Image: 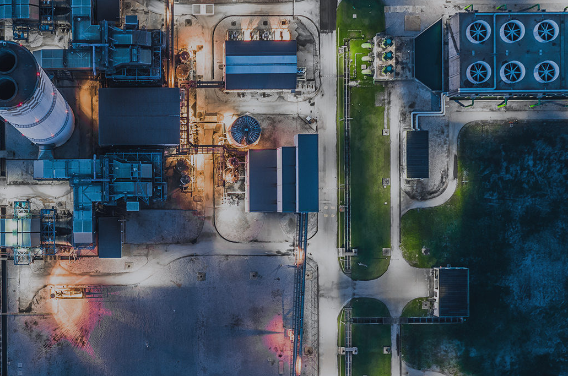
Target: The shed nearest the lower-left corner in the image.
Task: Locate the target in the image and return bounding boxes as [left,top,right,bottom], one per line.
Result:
[98,218,125,260]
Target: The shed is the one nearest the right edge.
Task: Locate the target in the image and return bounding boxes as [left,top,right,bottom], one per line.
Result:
[423,267,471,317]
